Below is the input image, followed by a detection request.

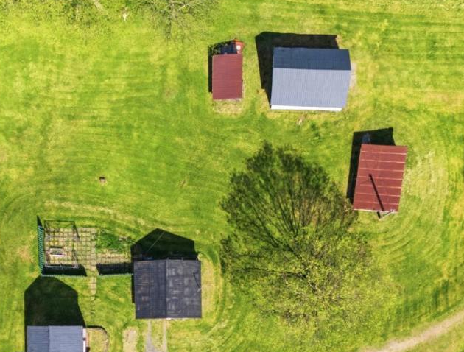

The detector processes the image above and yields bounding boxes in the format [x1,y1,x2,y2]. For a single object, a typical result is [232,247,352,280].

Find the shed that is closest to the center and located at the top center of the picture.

[212,53,243,104]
